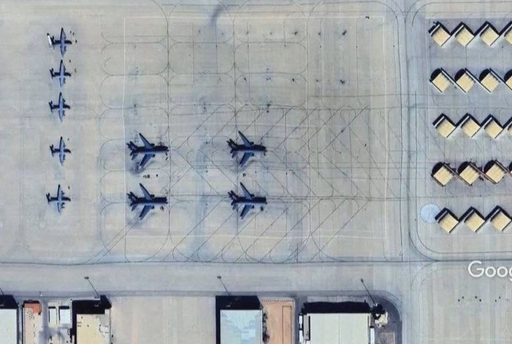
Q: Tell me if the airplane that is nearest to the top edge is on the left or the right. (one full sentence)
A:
The airplane that is nearest to the top edge appears in the left half of the scene.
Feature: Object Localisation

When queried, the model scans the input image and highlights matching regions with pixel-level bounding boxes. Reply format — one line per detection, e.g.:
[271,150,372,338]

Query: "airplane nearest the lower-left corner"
[49,185,70,214]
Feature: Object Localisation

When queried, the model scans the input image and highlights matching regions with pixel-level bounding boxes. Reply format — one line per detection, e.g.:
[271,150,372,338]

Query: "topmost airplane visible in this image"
[50,29,72,58]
